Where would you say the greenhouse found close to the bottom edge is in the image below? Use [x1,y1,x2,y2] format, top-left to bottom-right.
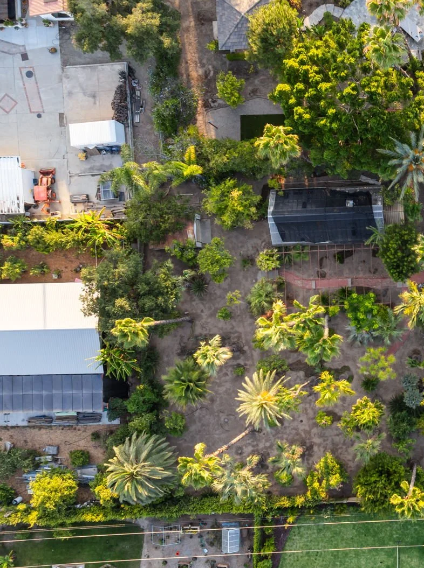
[222,526,242,554]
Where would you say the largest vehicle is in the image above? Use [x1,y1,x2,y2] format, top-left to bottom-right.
[31,169,57,219]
